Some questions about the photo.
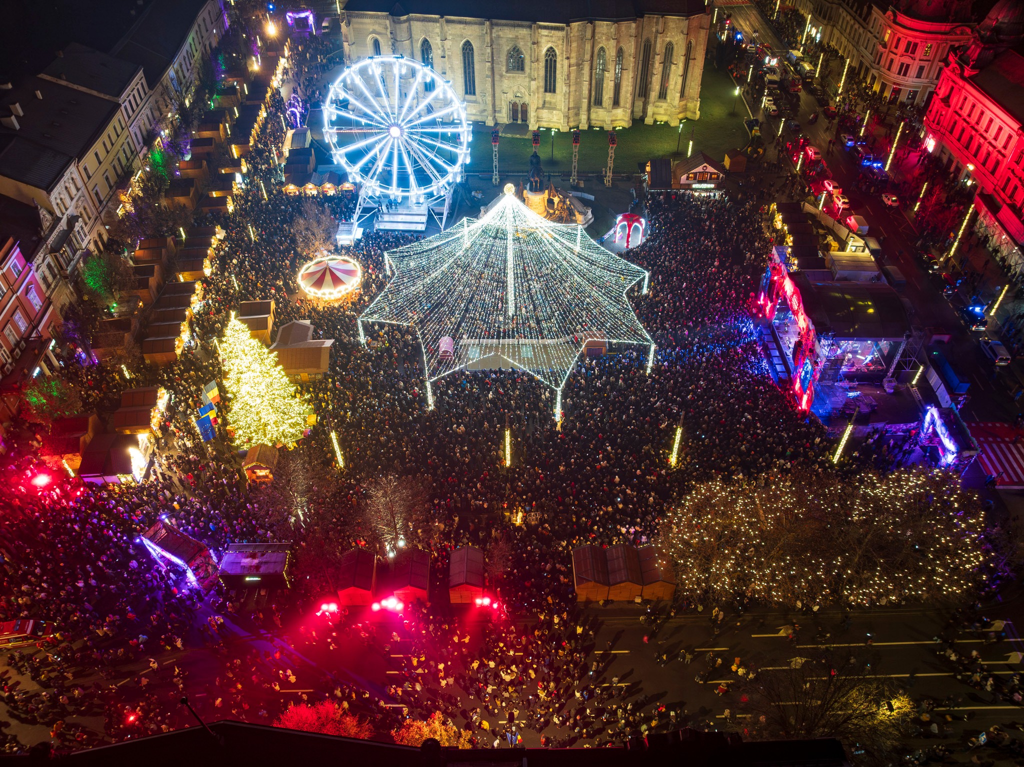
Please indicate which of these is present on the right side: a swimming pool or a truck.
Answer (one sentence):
You can see a truck on the right side.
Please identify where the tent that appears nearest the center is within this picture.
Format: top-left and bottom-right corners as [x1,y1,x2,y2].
[615,219,646,252]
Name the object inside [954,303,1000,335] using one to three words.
van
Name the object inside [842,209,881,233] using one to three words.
truck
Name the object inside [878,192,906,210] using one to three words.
car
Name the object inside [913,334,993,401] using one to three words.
truck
